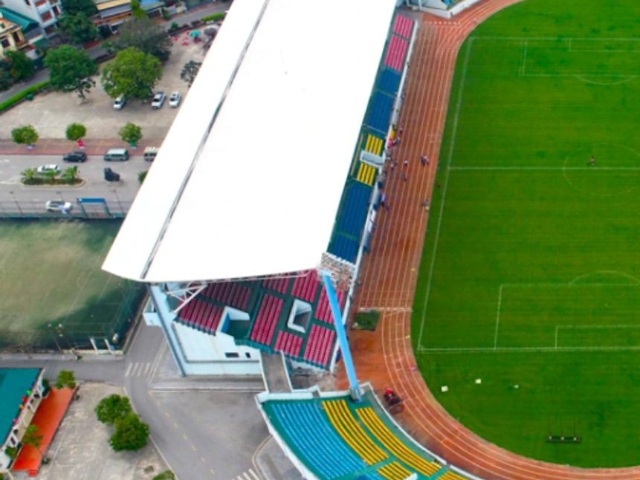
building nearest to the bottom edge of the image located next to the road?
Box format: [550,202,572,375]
[0,357,44,464]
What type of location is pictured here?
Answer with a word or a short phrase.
sports ground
